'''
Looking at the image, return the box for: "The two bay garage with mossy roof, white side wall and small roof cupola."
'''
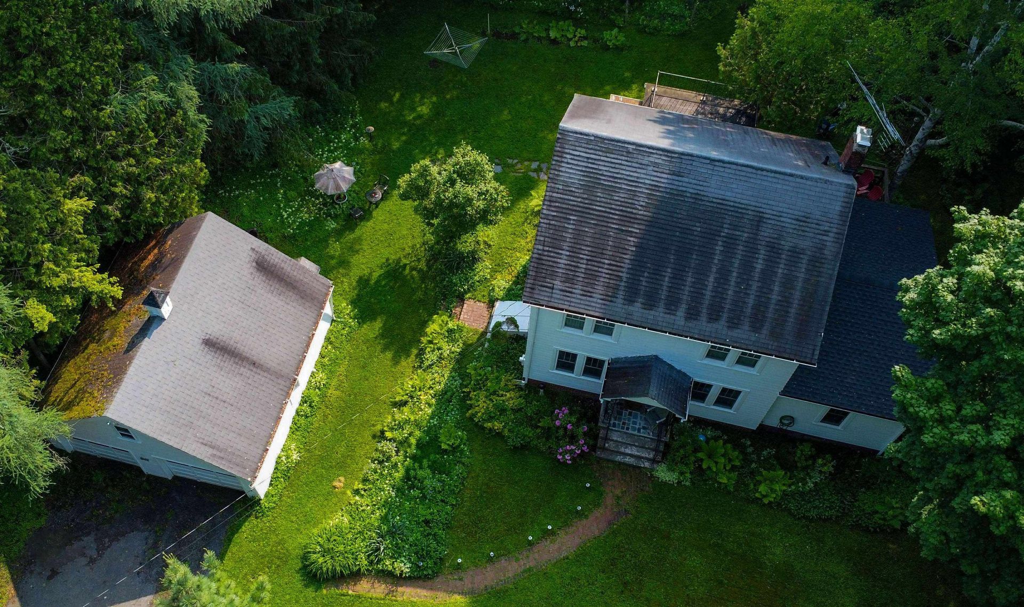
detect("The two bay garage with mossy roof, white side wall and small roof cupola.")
[24,212,341,501]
